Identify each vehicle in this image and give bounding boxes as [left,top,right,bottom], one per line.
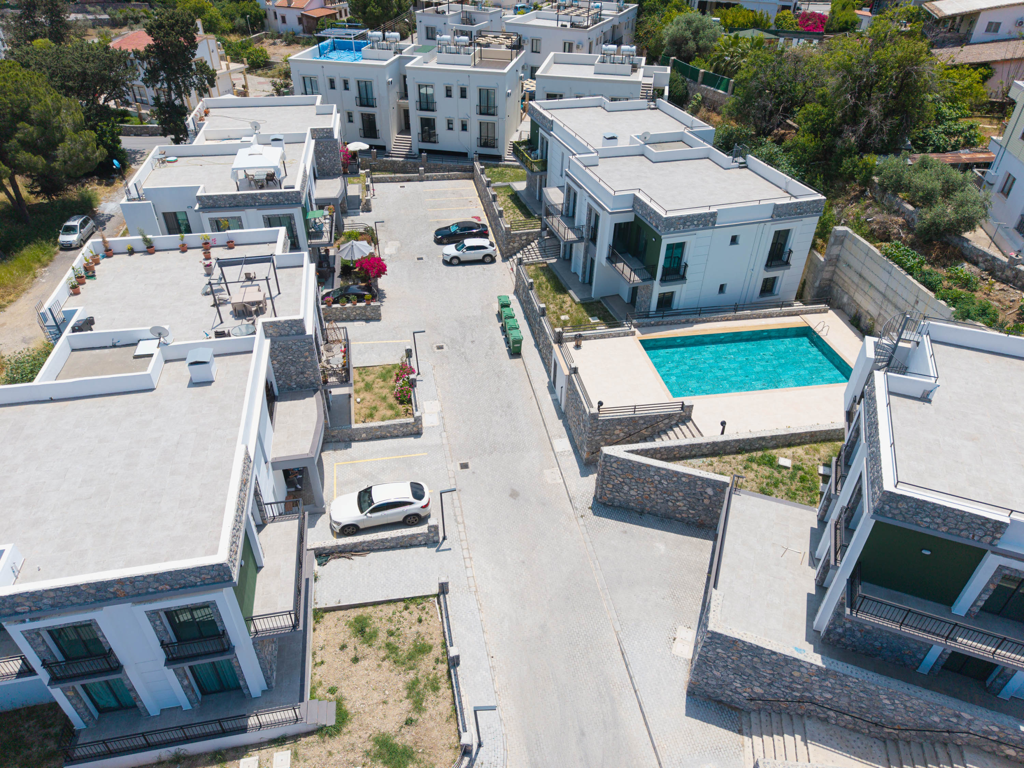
[321,285,381,308]
[443,238,498,265]
[54,214,91,245]
[433,221,489,244]
[328,480,432,533]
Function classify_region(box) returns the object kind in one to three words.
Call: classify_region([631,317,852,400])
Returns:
swimming pool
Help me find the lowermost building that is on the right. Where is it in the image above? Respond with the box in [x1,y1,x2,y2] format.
[817,322,1024,696]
